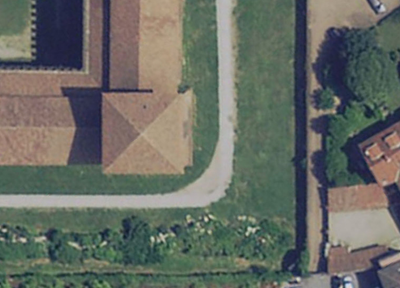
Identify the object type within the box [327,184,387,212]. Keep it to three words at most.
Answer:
shed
